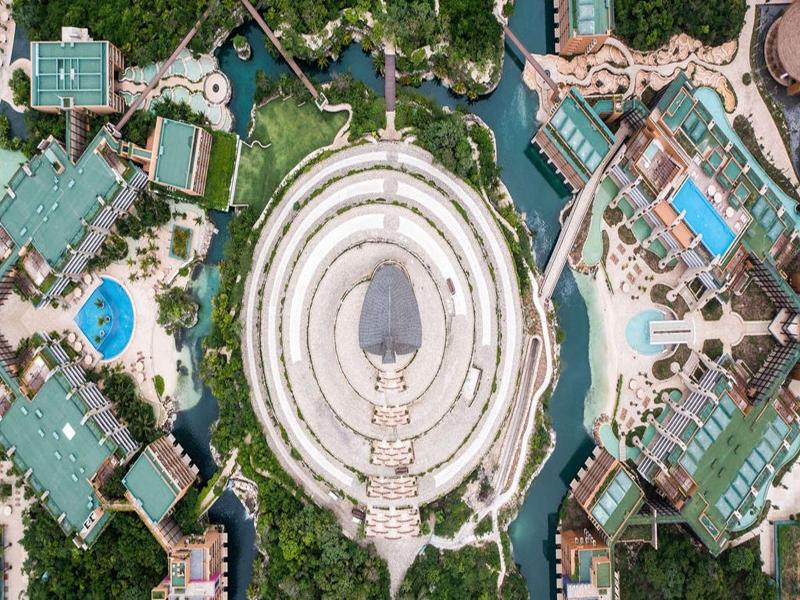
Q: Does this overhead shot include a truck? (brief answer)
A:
No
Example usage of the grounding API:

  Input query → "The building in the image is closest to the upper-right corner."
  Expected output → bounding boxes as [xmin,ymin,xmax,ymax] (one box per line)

[757,3,800,101]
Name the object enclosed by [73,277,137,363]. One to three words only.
swimming pool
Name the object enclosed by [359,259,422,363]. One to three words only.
building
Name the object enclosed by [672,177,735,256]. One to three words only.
swimming pool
